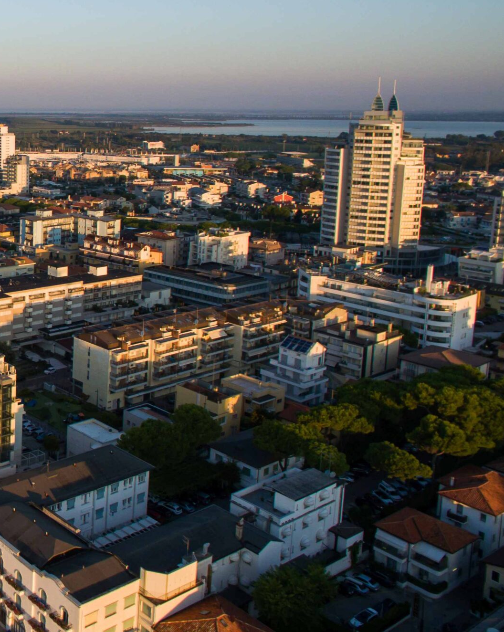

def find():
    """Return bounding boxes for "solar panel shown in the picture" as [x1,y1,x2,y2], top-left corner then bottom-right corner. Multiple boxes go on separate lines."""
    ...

[297,337,325,351]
